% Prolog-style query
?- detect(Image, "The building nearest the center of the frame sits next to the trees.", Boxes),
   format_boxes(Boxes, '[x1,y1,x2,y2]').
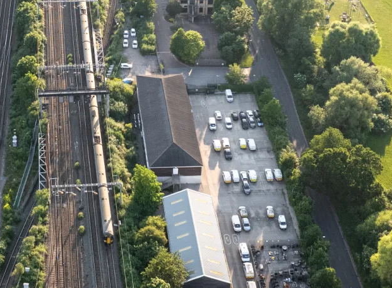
[135,72,204,186]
